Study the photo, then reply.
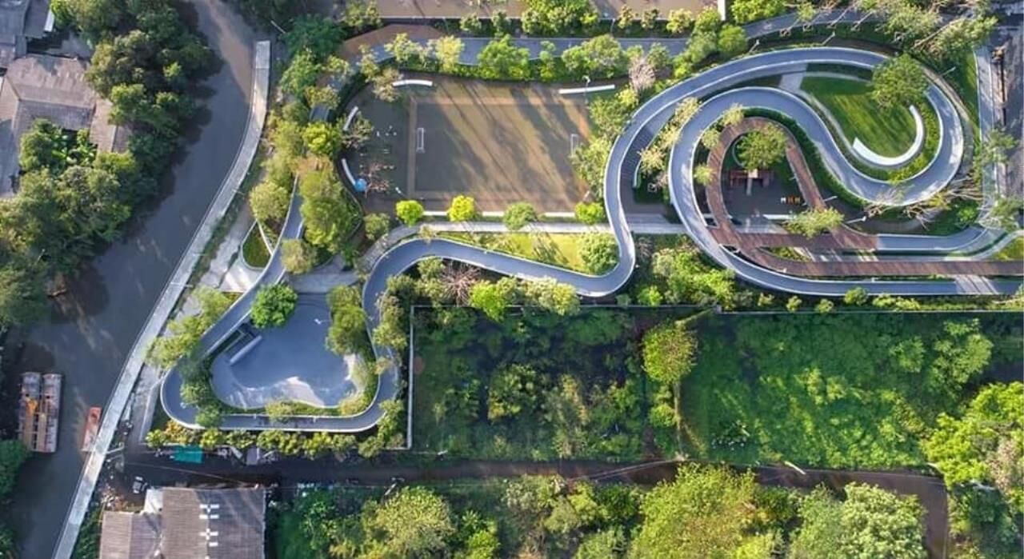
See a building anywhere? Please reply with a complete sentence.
Yes, the photo shows a building.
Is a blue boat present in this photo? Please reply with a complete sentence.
No, I can see no blue boat in this picture.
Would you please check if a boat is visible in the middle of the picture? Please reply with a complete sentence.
No, the scene shows no boat in the middle of the picture.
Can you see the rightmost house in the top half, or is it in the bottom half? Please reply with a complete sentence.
The bottom half of the photo is where the rightmost house is.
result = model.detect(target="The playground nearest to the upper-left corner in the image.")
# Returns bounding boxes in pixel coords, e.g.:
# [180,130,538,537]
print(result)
[336,68,412,222]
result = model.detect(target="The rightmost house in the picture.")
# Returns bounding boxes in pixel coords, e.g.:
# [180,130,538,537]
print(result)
[161,485,269,559]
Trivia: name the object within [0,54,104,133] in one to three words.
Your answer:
house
